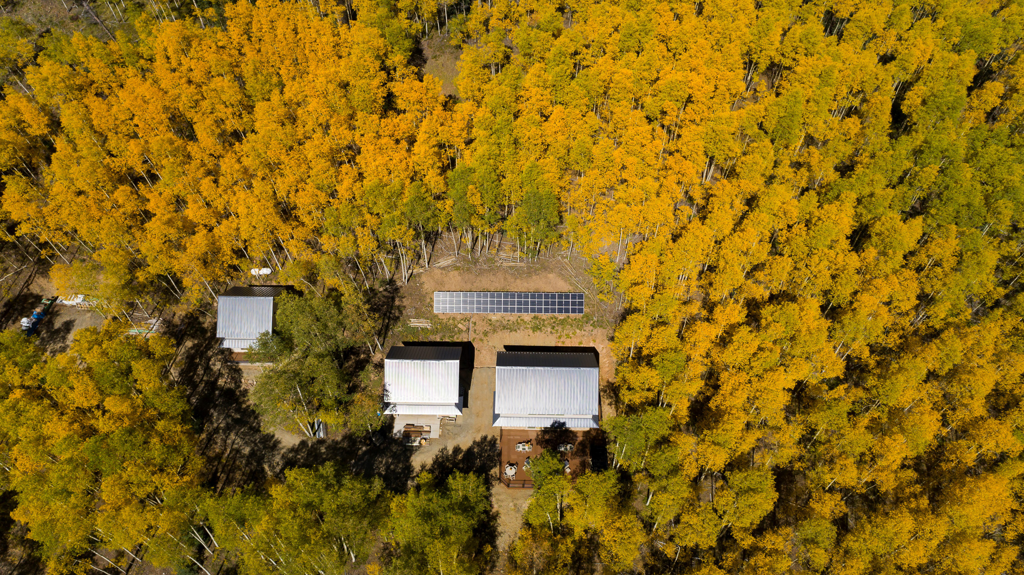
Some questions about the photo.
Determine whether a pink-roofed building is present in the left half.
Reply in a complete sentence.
No, the scene shows no pink-roofed building in the left half.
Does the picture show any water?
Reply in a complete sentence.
No, the picture contains no water.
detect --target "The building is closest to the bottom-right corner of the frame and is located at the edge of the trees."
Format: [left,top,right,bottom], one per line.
[494,351,599,430]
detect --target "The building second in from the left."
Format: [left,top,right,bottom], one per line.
[383,346,462,422]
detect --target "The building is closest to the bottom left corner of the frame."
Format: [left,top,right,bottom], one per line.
[215,286,283,351]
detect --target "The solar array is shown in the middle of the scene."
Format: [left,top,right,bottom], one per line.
[433,291,585,319]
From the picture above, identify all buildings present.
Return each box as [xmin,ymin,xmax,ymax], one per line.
[215,286,283,351]
[494,351,599,430]
[383,346,462,422]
